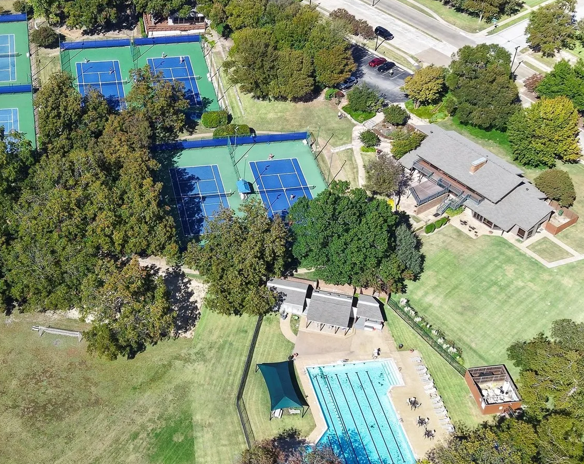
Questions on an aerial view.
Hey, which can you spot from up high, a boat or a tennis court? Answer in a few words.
tennis court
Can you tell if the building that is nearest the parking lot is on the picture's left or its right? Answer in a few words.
right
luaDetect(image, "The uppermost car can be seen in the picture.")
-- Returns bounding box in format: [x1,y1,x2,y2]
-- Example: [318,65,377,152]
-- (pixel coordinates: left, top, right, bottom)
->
[377,24,393,36]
